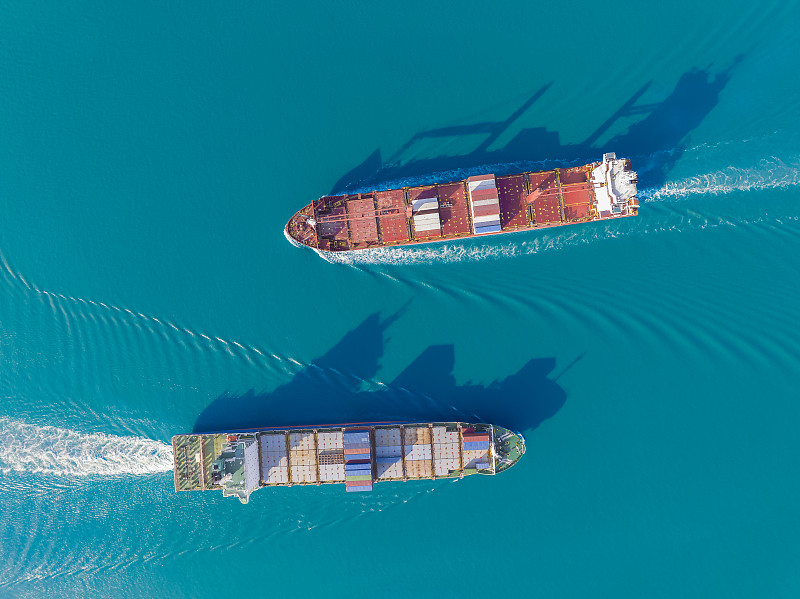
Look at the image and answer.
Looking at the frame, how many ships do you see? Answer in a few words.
2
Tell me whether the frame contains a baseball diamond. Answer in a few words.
No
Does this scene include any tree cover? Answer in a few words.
No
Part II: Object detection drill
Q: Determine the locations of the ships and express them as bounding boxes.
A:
[284,151,642,251]
[170,419,527,505]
